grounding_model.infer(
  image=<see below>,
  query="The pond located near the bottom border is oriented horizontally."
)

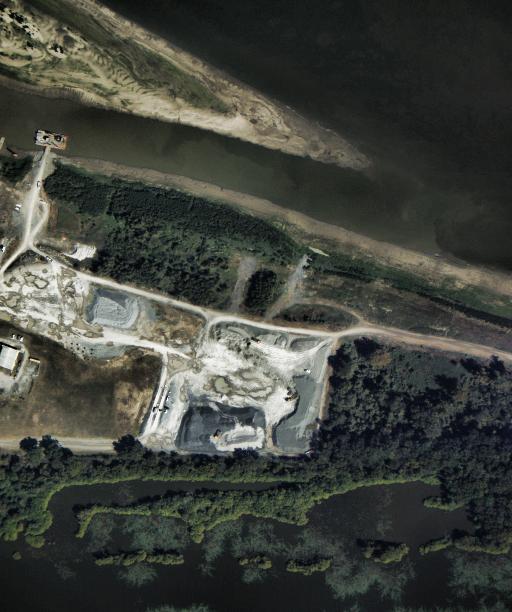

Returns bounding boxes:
[0,478,512,612]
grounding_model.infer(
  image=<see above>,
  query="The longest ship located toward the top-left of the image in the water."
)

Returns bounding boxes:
[35,131,68,149]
